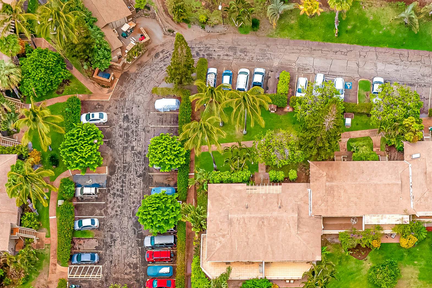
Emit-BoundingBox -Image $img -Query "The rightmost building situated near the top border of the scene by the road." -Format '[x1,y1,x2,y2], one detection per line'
[89,0,139,70]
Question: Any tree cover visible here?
Yes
